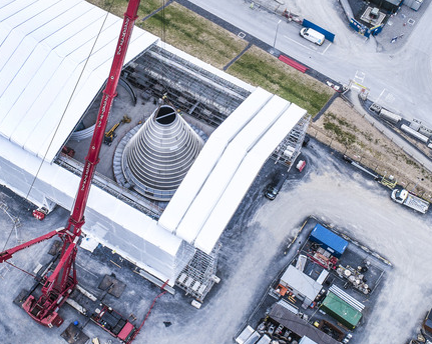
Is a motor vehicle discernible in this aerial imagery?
Yes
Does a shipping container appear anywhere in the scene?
Yes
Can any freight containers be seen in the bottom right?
Yes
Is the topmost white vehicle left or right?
right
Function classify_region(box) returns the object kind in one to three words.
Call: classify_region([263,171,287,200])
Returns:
truck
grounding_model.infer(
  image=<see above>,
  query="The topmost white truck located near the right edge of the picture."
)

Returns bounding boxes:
[392,186,431,217]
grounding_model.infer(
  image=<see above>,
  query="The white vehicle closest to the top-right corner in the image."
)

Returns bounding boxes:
[297,26,328,48]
